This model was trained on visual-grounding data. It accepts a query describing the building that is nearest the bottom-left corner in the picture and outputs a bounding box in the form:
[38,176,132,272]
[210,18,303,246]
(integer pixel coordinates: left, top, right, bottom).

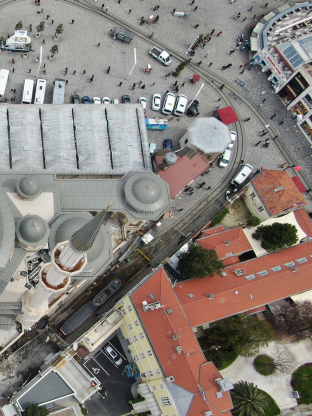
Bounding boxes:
[0,371,75,416]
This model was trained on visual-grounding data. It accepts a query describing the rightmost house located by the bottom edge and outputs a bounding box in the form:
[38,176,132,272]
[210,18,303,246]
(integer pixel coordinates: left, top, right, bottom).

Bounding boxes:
[113,265,238,416]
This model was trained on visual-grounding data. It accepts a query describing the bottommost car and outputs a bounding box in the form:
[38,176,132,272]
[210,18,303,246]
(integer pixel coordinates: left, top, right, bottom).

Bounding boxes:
[103,343,124,366]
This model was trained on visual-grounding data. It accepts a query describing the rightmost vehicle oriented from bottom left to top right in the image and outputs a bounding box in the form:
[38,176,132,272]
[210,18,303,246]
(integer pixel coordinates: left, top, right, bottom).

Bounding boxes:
[231,158,260,187]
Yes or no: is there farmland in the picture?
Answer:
No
